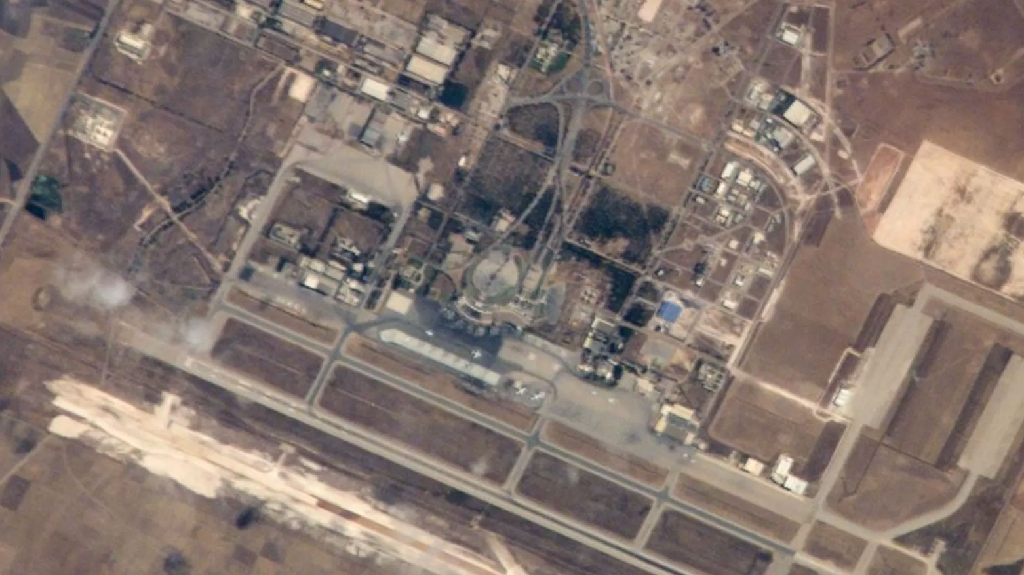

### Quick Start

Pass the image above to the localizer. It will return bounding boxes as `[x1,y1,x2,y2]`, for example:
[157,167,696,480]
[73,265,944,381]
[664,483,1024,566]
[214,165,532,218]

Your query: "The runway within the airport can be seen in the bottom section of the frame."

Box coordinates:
[134,348,681,575]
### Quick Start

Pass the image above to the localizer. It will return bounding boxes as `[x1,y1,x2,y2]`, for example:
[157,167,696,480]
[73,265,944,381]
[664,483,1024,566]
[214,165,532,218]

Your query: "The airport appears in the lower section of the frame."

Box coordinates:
[125,139,1024,575]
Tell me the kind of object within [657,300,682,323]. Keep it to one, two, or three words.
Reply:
building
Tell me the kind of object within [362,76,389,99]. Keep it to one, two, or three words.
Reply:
hangar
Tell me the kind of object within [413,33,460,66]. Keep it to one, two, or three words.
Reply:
building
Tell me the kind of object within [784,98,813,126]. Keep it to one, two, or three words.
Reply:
hangar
